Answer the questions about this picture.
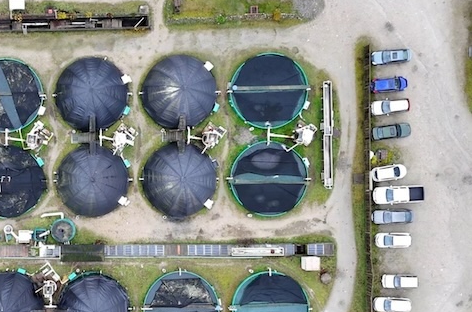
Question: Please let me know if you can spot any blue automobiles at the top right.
Yes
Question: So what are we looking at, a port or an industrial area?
industrial area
